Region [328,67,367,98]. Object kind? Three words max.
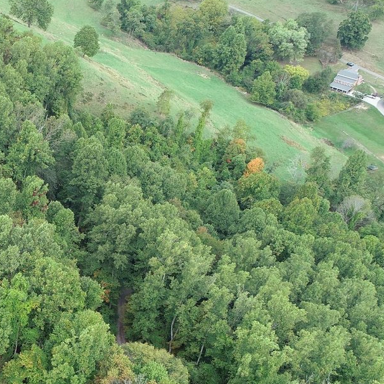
house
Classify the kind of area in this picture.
forest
